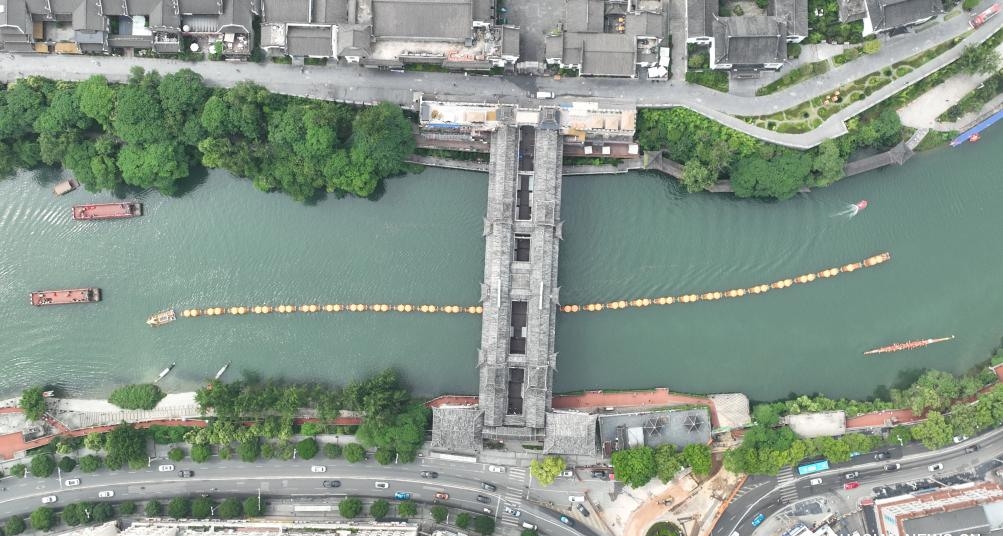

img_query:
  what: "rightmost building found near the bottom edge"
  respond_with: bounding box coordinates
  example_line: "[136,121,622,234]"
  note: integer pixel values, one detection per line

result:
[876,480,1003,536]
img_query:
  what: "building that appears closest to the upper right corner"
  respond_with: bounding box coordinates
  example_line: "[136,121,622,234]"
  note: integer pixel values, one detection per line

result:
[867,0,947,34]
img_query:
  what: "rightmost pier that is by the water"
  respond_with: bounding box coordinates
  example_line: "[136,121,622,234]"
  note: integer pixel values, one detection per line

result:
[946,109,1003,149]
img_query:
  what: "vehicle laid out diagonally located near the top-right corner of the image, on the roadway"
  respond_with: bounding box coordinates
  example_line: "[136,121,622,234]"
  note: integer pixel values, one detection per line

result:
[965,3,1000,29]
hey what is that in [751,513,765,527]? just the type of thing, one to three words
vehicle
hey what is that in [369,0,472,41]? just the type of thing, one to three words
house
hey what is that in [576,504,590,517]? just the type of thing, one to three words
vehicle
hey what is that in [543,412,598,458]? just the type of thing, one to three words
building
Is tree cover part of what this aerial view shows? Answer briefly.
Yes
